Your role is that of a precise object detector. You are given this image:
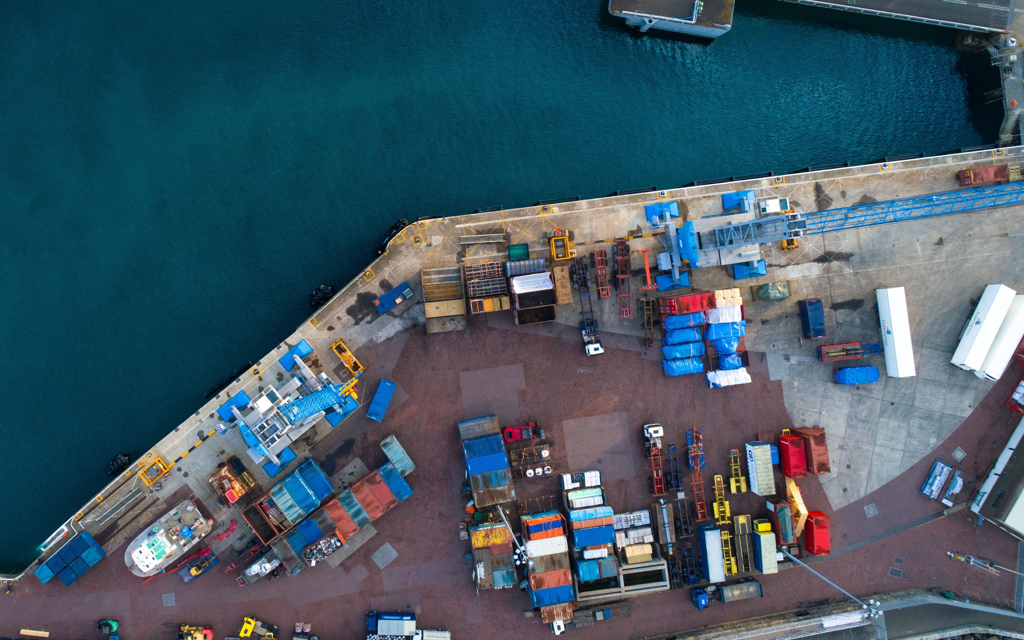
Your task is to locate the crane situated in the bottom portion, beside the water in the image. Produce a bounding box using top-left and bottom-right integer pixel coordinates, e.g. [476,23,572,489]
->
[218,338,361,474]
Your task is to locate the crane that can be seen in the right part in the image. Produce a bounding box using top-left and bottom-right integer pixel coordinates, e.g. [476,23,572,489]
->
[644,181,1024,291]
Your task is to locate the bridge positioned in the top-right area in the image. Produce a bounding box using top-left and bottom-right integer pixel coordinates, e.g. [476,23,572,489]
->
[741,0,1014,37]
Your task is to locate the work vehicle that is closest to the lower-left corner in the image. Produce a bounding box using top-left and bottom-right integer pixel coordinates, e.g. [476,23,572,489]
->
[91,614,126,633]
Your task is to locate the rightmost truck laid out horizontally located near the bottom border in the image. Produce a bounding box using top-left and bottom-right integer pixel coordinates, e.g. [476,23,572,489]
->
[685,578,762,609]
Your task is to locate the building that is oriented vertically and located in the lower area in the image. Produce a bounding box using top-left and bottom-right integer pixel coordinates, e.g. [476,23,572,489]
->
[972,418,1024,541]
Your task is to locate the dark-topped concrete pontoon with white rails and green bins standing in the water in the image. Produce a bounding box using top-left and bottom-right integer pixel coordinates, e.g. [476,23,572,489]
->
[607,0,734,41]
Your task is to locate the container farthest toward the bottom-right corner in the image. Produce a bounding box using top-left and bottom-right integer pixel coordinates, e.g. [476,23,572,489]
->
[804,511,830,556]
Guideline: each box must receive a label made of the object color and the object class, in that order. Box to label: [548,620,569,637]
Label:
white vehicle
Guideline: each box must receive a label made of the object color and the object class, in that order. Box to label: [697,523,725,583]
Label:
white trailer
